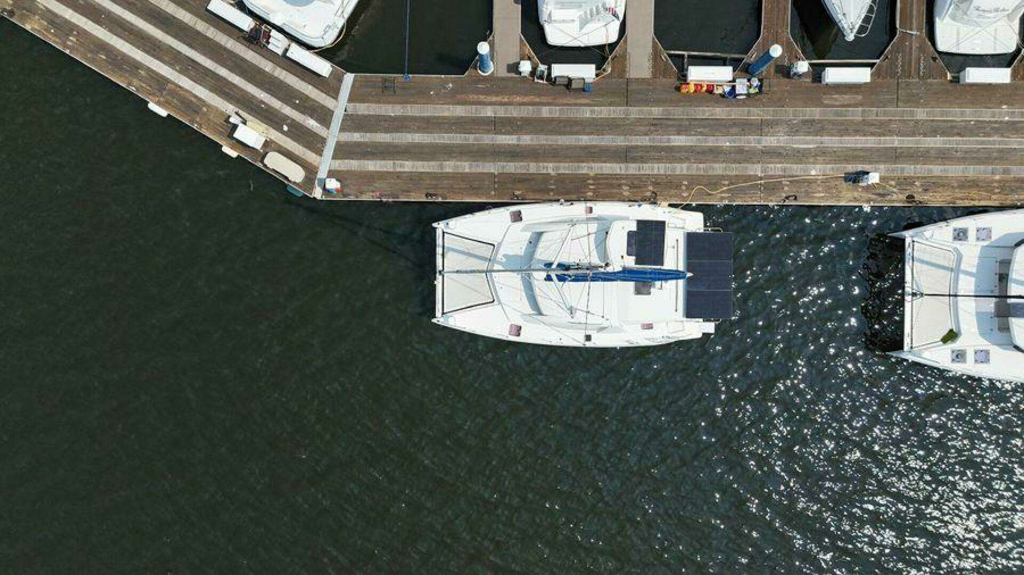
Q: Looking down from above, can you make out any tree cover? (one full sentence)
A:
No, tree cover can't be seen anywhere here.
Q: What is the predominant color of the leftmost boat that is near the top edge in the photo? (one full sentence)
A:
The color of the leftmost boat that is near the top edge is white.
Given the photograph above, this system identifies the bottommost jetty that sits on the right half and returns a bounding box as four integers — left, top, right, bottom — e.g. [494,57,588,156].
[324,73,1024,207]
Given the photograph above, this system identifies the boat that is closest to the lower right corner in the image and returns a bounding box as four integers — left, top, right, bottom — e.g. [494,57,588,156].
[891,209,1024,381]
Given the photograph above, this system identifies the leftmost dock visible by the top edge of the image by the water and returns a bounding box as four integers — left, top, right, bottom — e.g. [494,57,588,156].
[0,0,344,197]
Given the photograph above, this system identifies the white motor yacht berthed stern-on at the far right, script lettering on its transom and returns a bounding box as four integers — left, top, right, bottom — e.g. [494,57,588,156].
[921,0,1021,55]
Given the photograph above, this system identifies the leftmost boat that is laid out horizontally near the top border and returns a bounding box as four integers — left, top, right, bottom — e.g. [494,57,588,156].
[245,0,360,48]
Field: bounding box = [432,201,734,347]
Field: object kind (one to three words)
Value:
boat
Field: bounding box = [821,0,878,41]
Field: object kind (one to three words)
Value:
boat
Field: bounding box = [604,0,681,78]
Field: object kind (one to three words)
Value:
pier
